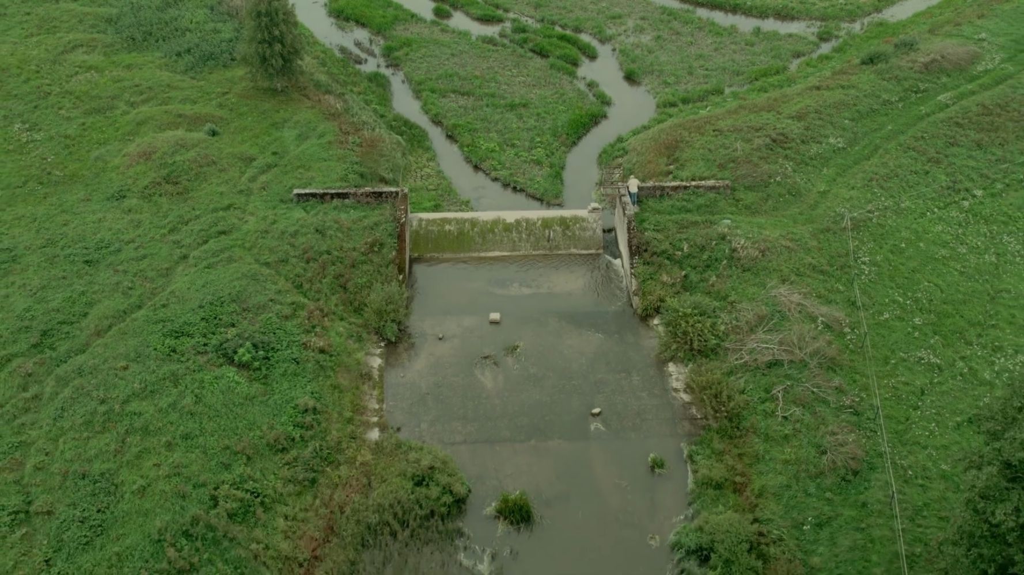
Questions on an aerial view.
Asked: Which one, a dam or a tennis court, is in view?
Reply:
dam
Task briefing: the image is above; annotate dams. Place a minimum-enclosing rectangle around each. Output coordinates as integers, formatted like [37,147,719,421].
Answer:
[409,209,604,262]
